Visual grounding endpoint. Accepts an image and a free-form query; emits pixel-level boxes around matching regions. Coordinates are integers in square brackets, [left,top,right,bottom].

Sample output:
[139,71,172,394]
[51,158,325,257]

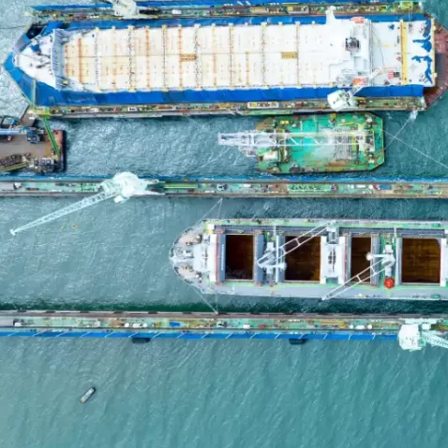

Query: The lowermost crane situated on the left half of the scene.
[8,169,180,237]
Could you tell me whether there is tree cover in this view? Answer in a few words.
No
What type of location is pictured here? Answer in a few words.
port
